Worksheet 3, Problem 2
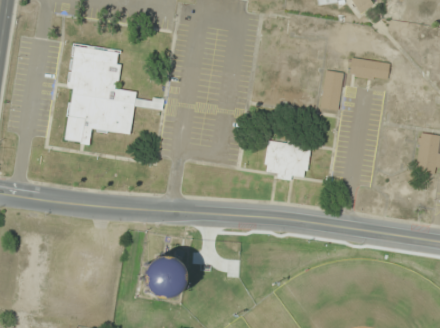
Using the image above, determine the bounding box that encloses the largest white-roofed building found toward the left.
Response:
[64,44,165,146]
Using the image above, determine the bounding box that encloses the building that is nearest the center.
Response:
[266,142,312,181]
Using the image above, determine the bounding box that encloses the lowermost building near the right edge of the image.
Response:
[416,134,440,177]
